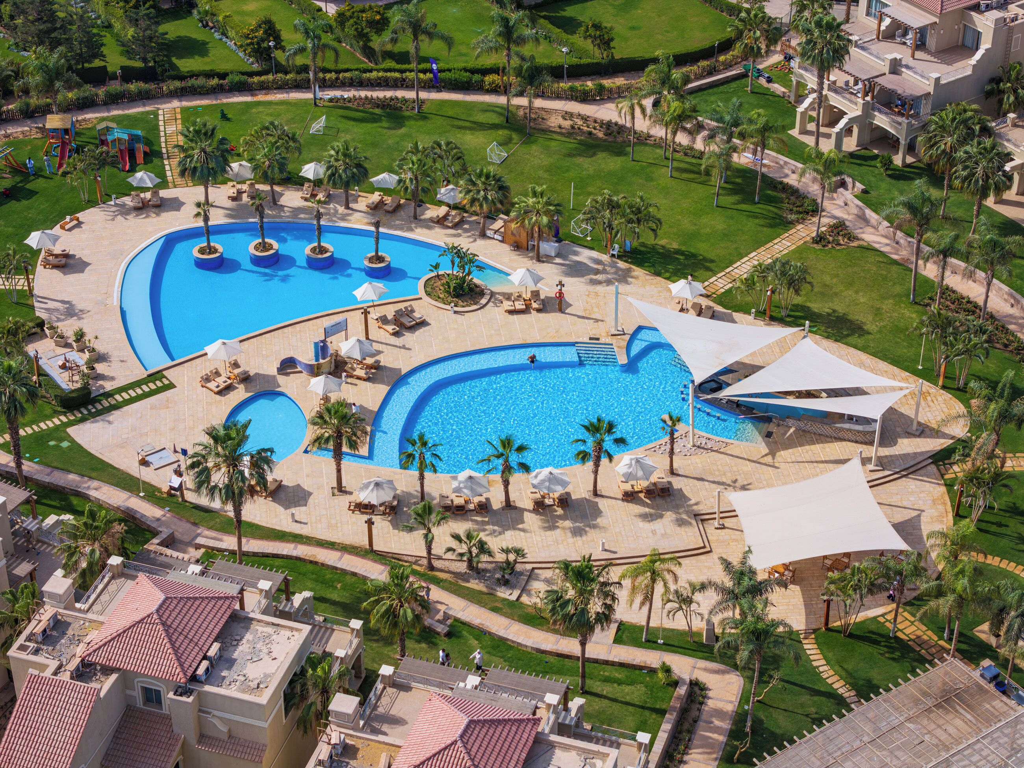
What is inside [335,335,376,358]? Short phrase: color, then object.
white umbrella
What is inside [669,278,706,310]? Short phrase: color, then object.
white umbrella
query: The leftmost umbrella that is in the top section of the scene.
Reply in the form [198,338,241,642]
[22,225,63,259]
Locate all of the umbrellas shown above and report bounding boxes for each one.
[124,168,162,199]
[615,453,664,494]
[352,475,403,516]
[203,341,245,378]
[227,160,251,182]
[297,164,328,184]
[335,335,376,358]
[368,170,399,204]
[526,465,575,506]
[434,187,465,220]
[353,286,395,321]
[506,267,547,300]
[303,374,348,400]
[444,469,492,511]
[669,278,706,310]
[22,225,63,259]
